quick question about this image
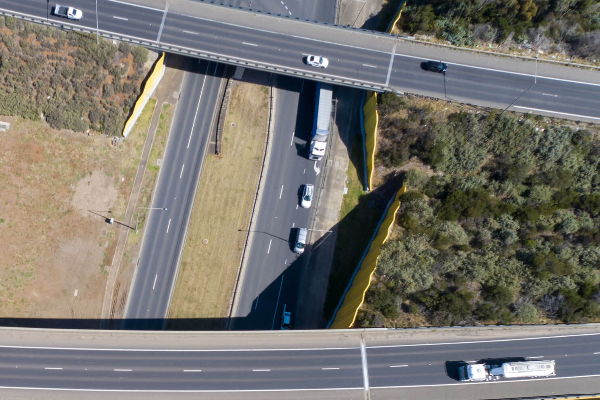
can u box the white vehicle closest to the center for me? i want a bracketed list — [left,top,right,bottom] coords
[302,184,314,208]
